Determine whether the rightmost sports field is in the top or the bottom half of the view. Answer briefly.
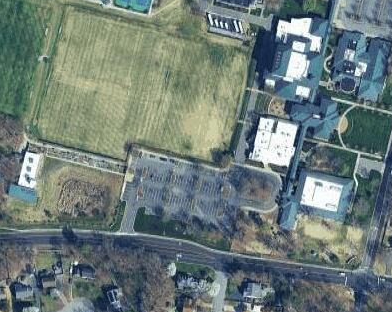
top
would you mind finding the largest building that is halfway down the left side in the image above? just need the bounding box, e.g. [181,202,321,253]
[7,152,41,204]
